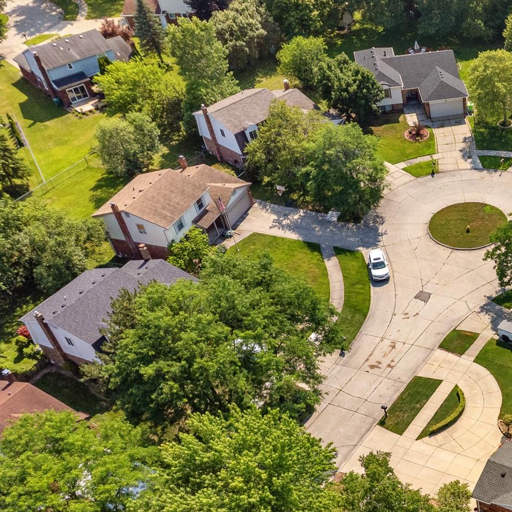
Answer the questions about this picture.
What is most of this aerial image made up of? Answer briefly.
trees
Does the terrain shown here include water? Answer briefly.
No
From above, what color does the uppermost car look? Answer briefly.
white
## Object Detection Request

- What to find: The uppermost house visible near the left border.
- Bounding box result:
[5,30,149,104]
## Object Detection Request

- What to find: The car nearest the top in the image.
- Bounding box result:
[366,251,388,281]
